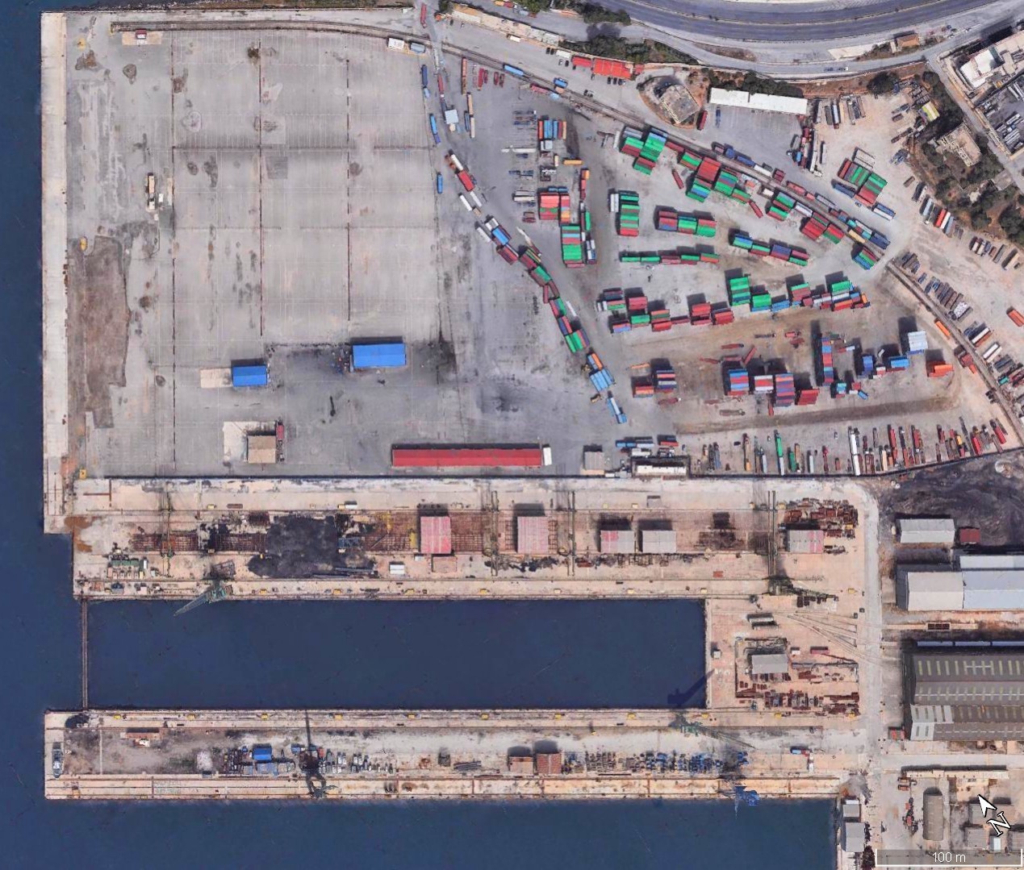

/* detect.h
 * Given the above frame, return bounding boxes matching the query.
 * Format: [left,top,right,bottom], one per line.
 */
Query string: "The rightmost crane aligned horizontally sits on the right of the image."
[765,577,837,600]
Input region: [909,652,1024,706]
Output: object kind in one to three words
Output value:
building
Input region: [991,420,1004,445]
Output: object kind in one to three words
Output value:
vehicle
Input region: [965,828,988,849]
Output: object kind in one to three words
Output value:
building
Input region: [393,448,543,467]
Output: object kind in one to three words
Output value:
shed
